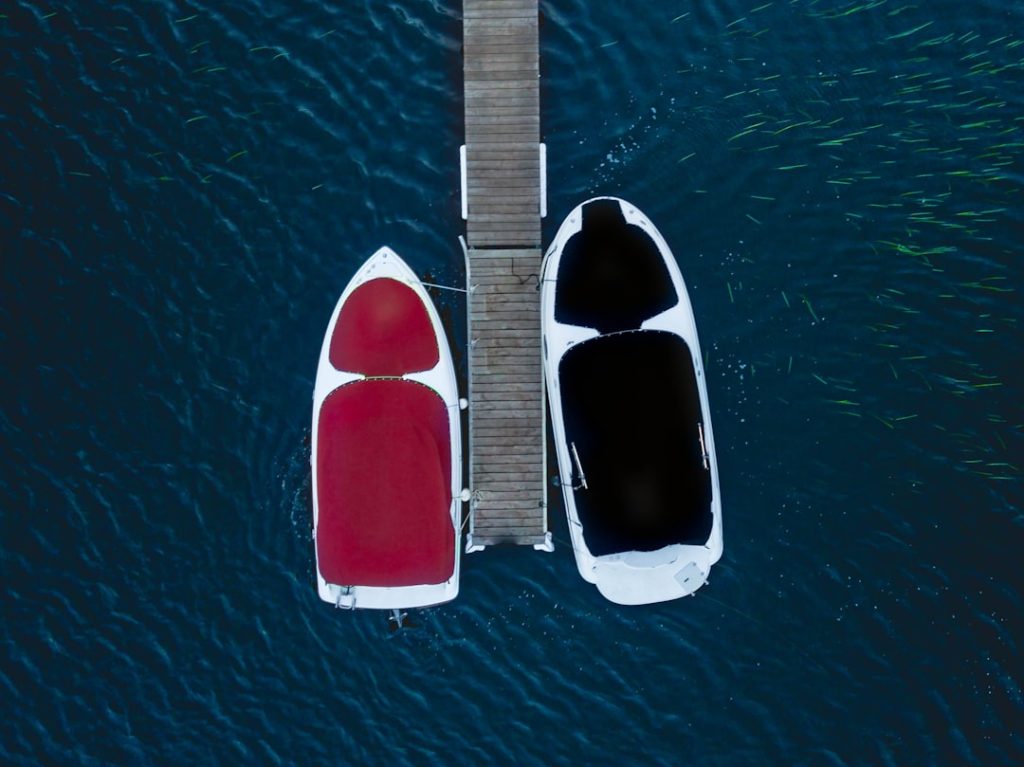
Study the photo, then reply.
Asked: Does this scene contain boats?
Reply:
Yes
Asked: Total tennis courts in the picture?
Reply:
none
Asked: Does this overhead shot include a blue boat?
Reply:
No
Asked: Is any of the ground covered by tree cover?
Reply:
No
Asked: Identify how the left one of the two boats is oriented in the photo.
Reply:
from top to bottom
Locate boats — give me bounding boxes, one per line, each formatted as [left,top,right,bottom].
[539,195,723,605]
[312,245,463,628]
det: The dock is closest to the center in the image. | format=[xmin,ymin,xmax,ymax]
[458,236,554,553]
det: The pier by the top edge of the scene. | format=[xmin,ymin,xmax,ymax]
[460,0,547,246]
